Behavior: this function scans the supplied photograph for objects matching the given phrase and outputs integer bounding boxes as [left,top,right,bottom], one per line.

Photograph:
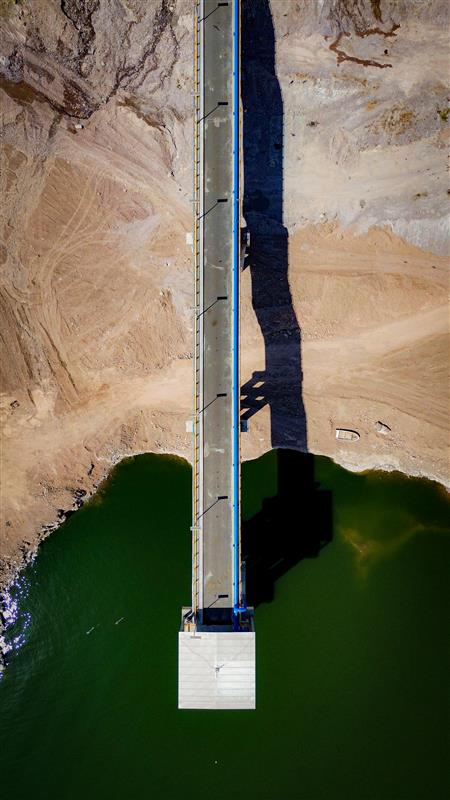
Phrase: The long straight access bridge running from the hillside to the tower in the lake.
[186,0,248,624]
